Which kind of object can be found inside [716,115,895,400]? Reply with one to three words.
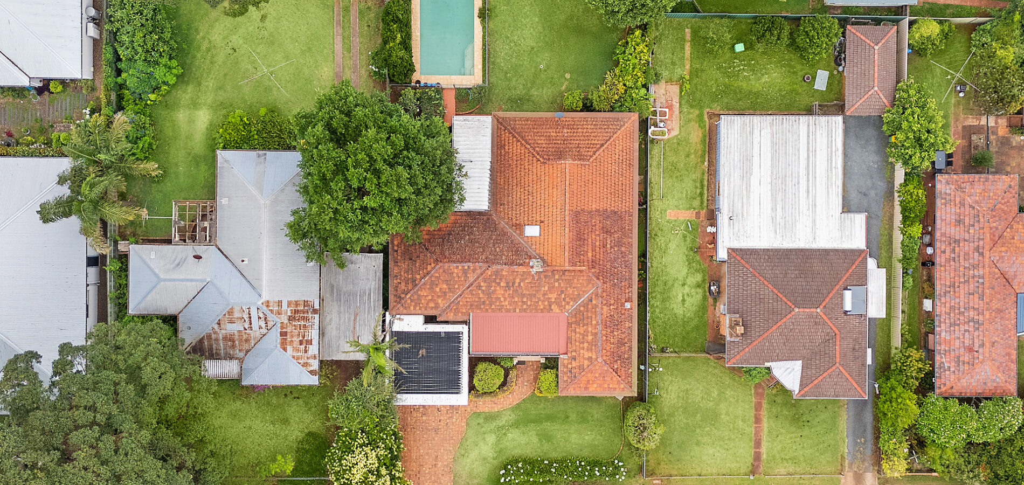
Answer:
house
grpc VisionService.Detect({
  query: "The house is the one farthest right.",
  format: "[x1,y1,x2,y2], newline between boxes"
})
[931,173,1024,398]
